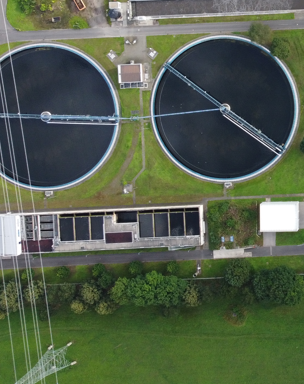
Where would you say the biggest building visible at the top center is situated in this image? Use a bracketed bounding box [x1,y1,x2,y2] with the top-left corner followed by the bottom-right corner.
[118,63,146,84]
